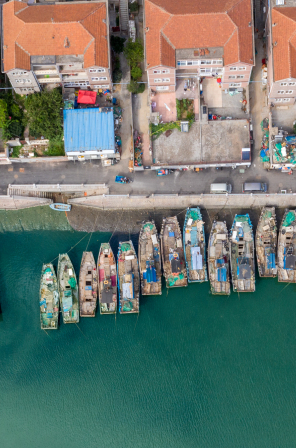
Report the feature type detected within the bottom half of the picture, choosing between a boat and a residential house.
boat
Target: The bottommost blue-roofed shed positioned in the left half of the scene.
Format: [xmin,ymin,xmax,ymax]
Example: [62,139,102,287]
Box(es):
[64,107,114,157]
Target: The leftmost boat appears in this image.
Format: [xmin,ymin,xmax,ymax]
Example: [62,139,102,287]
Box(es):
[38,263,58,330]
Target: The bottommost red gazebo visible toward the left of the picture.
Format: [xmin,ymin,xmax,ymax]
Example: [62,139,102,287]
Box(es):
[79,92,98,108]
